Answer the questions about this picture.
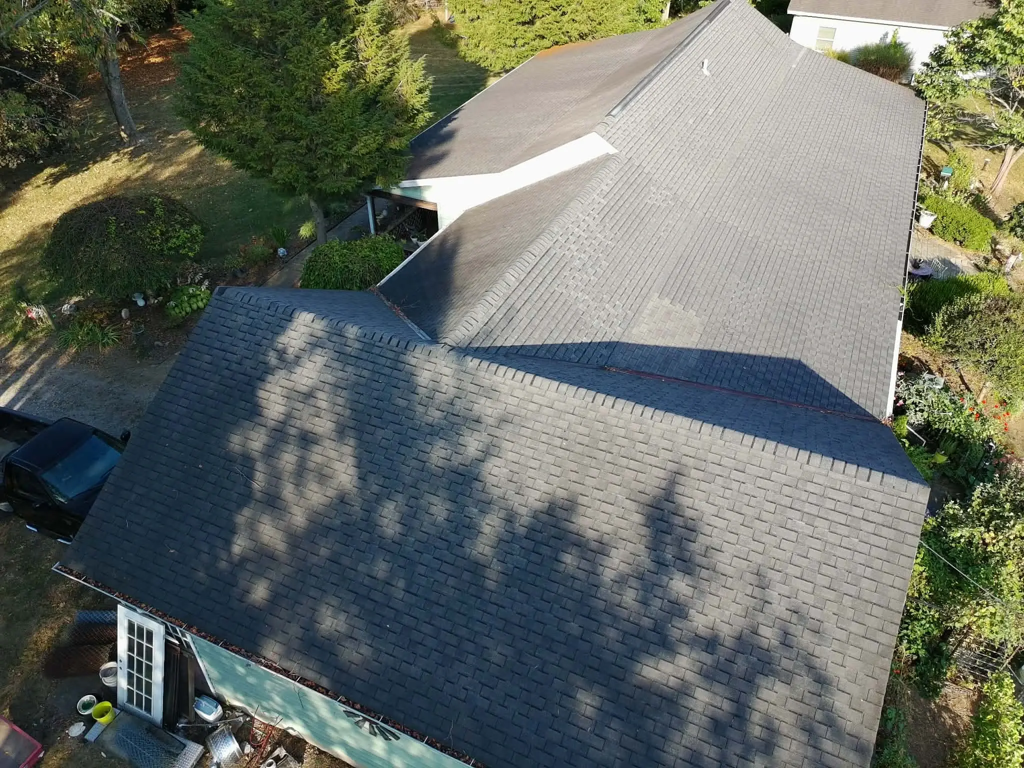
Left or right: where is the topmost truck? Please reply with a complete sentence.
The topmost truck sits on the left side.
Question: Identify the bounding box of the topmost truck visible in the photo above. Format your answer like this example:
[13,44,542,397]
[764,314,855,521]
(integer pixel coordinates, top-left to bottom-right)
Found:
[0,390,126,547]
